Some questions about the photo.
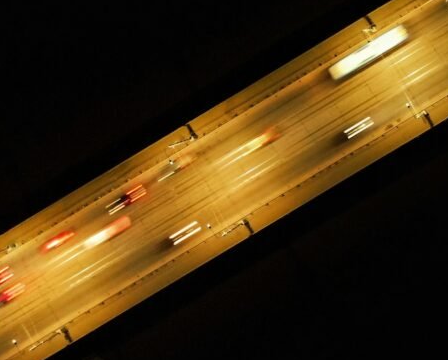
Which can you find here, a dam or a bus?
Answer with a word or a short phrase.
bus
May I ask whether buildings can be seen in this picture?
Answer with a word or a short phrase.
No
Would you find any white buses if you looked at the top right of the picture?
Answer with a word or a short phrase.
Yes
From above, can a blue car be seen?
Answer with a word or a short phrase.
No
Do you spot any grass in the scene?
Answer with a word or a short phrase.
No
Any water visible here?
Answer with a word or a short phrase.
Yes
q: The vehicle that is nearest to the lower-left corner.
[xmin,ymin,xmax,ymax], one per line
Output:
[0,288,18,306]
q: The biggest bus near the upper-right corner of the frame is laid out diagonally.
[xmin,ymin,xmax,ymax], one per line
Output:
[327,25,408,82]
